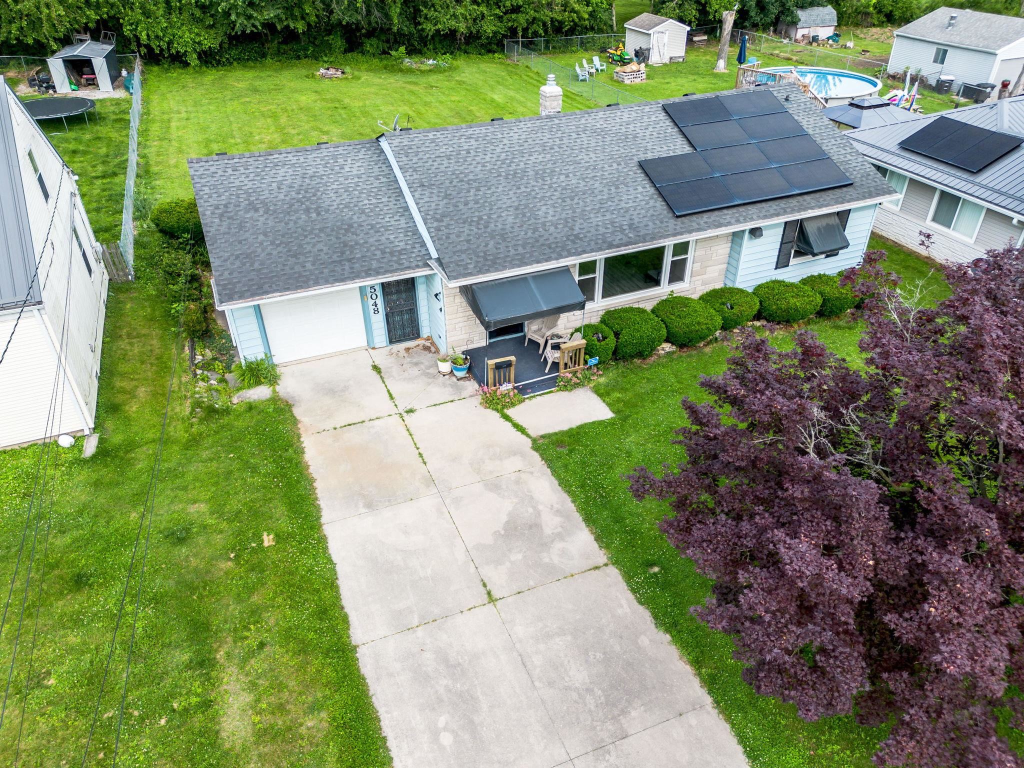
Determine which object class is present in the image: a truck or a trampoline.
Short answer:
trampoline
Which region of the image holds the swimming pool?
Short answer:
top right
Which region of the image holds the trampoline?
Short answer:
top left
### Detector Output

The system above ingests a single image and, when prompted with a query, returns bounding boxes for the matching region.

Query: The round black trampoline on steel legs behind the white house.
[38,97,99,132]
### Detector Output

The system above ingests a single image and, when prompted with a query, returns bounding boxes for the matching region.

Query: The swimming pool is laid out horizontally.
[747,64,885,107]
